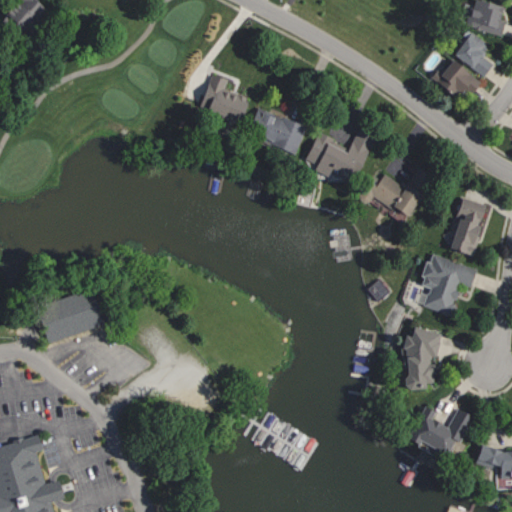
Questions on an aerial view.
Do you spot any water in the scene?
Yes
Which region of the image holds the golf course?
top left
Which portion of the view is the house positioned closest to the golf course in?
top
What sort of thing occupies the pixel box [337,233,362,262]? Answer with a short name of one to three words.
pier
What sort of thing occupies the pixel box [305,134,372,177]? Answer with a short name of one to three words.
house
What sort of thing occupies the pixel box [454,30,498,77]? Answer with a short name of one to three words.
house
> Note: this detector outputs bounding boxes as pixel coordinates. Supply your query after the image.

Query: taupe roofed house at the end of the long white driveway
[197,74,250,118]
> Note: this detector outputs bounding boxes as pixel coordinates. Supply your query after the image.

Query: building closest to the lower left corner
[0,437,65,512]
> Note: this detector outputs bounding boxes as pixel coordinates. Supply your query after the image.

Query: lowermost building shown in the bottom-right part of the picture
[477,446,512,482]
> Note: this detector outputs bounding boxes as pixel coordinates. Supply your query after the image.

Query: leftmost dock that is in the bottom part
[242,408,318,468]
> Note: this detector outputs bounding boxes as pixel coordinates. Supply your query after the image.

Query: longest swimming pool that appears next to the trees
[424,51,442,71]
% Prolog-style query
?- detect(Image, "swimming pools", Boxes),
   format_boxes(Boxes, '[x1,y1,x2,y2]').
[424,51,442,71]
[409,286,419,300]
